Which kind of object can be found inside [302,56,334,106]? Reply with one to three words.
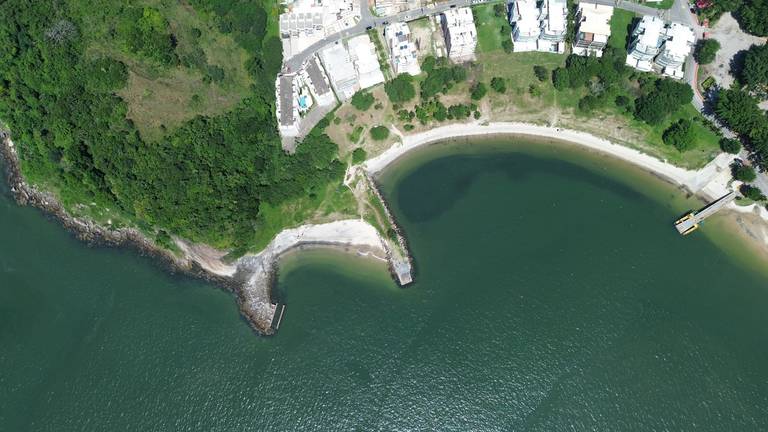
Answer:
building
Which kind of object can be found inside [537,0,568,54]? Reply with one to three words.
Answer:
house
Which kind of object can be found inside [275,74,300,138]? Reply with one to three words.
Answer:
building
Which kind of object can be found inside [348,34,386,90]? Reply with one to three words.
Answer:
house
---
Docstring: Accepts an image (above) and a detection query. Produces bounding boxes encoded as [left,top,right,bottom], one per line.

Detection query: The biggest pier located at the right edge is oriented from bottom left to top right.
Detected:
[674,190,736,234]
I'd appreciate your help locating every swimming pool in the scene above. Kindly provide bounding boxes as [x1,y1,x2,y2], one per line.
[298,94,312,110]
